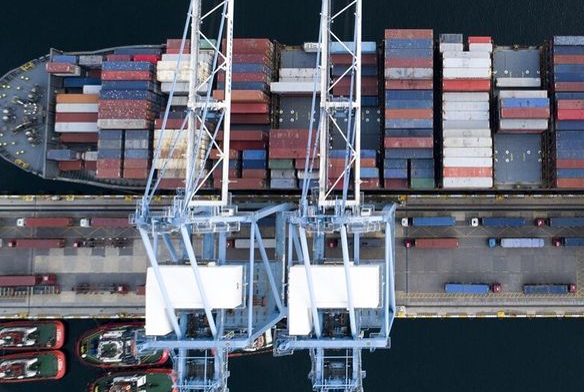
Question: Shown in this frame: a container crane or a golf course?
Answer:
container crane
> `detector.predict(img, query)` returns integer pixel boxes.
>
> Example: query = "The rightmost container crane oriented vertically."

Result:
[266,0,412,392]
